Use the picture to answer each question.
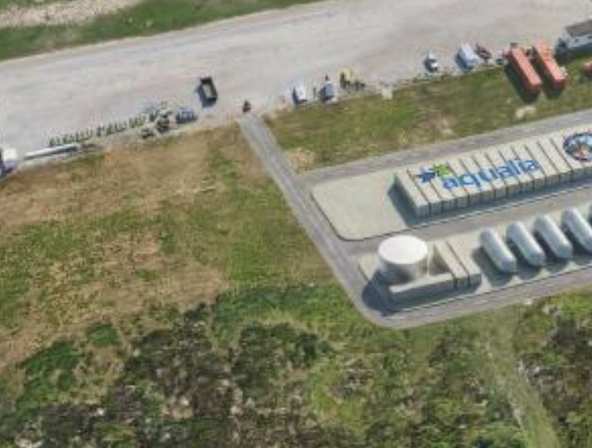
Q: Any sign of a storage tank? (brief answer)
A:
Yes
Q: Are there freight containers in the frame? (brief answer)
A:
Yes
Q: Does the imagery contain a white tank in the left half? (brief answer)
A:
No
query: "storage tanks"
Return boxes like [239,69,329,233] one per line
[563,205,592,251]
[534,212,574,265]
[377,233,429,286]
[479,228,518,281]
[507,220,546,274]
